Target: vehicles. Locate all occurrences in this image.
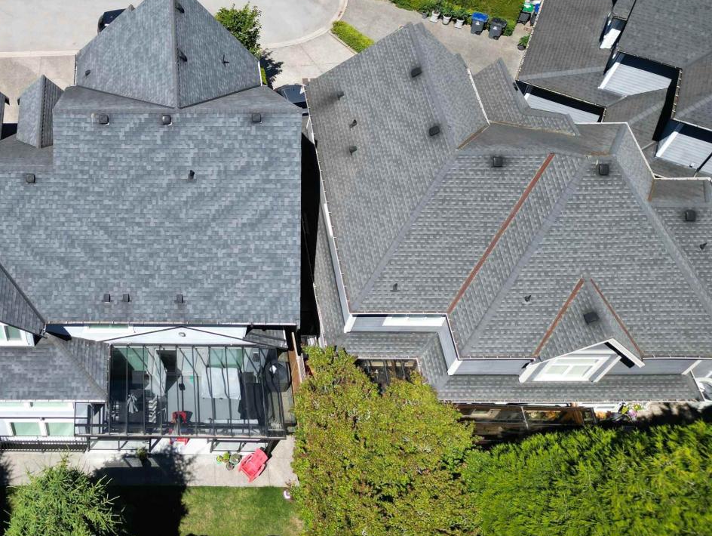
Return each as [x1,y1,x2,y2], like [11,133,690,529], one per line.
[97,0,138,32]
[272,78,308,132]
